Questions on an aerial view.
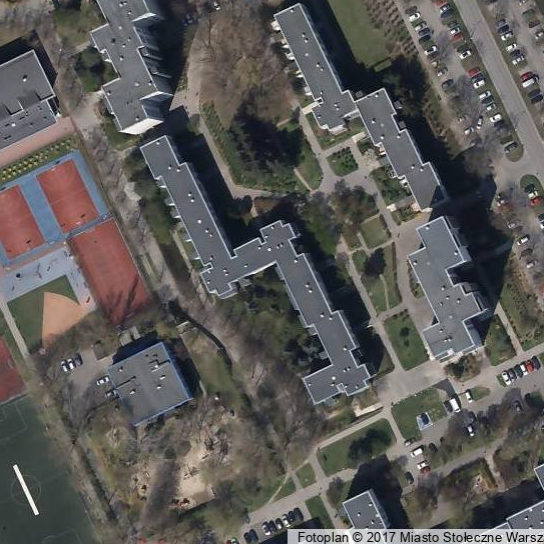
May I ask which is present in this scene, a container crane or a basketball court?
basketball court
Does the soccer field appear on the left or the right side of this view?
left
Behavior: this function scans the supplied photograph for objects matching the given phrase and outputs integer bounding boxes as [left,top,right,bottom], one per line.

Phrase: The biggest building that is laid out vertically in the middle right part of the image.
[407,217,491,365]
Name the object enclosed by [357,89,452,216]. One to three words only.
building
